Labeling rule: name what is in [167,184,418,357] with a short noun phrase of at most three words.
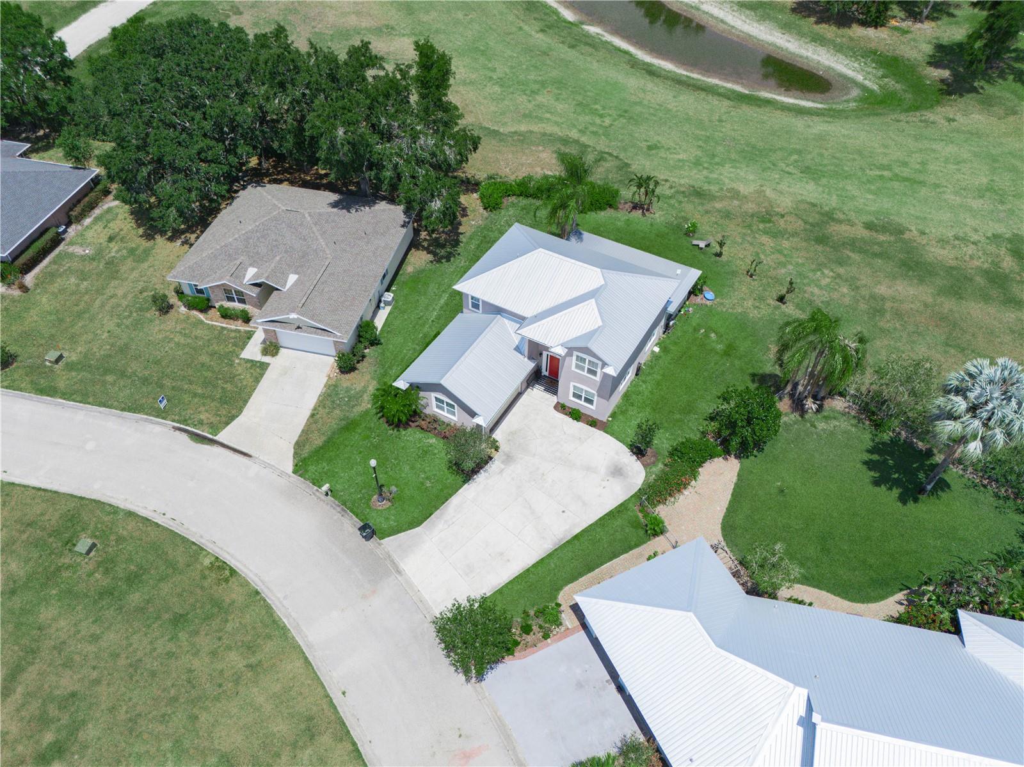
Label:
house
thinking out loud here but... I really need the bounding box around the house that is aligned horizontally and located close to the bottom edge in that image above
[573,537,1024,767]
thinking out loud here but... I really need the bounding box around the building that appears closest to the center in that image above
[390,222,700,442]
